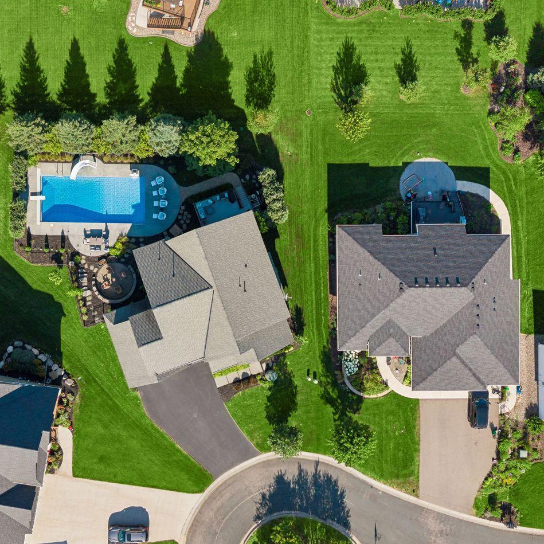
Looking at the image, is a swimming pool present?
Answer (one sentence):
Yes, a swimming pool appears in the view.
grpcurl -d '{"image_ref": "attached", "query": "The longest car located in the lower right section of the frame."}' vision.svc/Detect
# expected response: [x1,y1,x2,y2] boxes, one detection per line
[470,387,492,430]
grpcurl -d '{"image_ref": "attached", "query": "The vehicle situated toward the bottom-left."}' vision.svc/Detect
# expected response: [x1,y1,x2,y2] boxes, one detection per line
[109,525,149,544]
